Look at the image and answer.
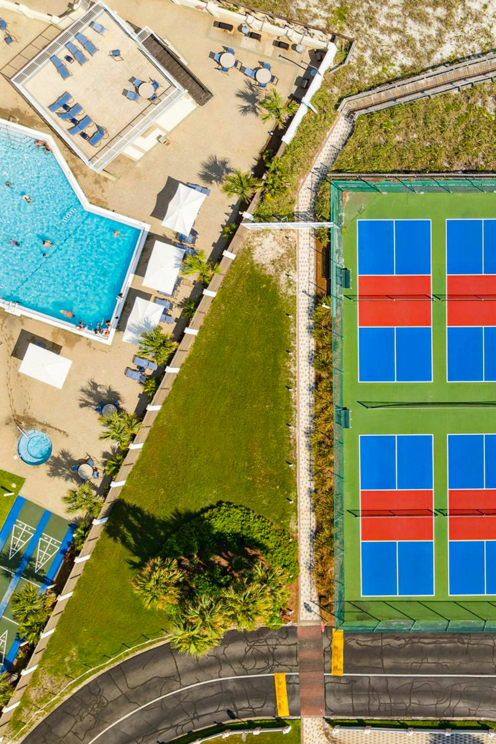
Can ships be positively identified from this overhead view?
No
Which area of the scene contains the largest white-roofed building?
top left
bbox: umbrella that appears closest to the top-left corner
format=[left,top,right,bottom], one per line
[162,183,206,237]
